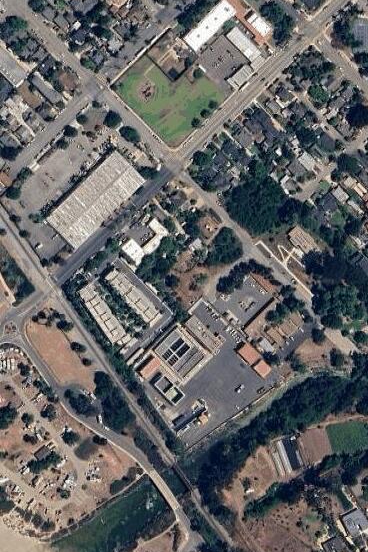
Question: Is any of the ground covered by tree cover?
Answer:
Yes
